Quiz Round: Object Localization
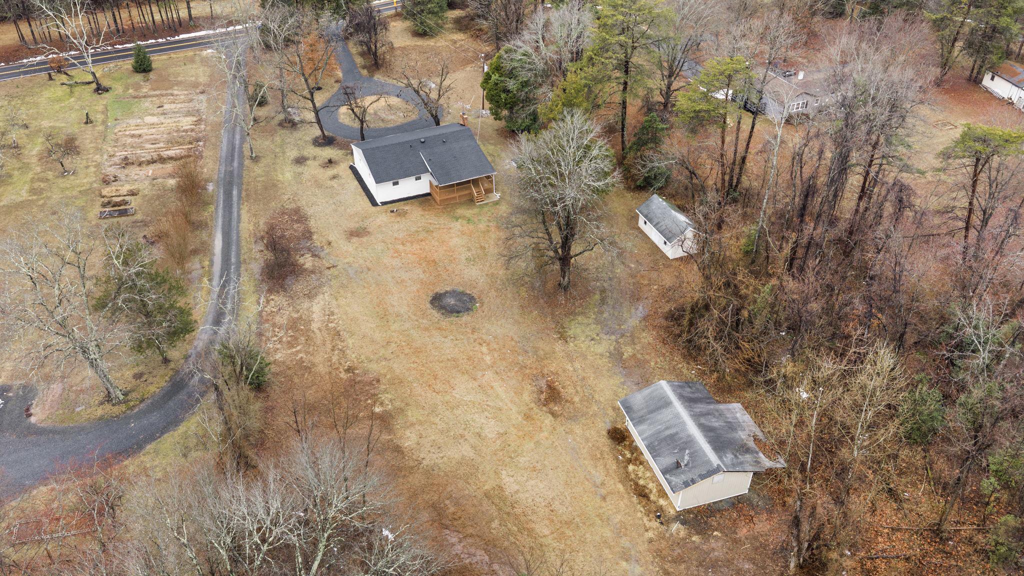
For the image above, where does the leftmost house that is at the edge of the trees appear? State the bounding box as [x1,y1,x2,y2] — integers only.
[348,113,503,206]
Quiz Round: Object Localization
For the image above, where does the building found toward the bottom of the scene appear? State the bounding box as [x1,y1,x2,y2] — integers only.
[617,380,789,513]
